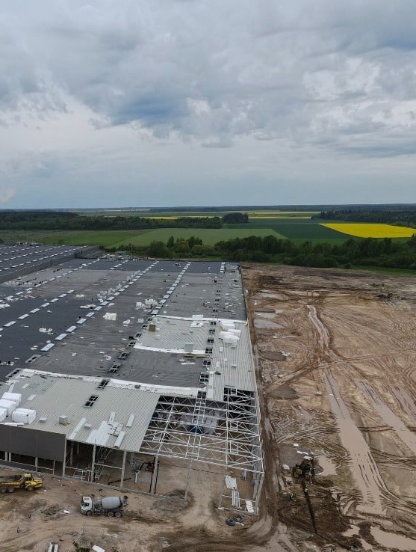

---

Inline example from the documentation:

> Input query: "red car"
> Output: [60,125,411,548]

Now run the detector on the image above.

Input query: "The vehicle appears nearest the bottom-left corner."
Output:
[0,471,44,494]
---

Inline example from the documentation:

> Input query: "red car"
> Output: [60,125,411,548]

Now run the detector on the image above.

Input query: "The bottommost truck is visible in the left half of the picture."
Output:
[79,496,130,518]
